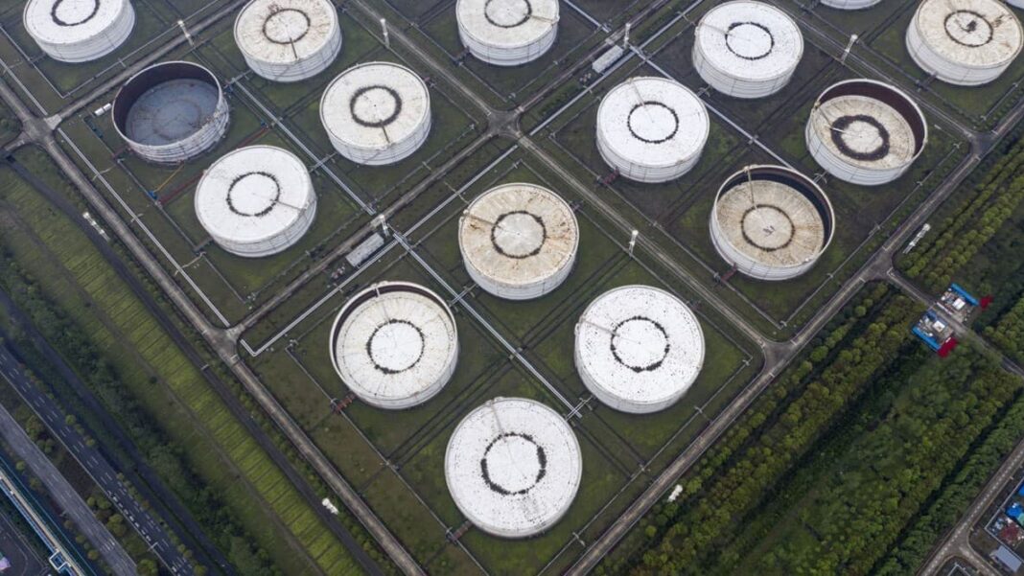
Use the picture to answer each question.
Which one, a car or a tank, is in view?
tank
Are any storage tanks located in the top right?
Yes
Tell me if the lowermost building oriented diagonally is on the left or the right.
right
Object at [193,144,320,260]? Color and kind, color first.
white storage tank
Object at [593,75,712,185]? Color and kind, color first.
white storage tank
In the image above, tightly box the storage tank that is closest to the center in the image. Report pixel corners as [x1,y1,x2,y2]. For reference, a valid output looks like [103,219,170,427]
[457,181,580,302]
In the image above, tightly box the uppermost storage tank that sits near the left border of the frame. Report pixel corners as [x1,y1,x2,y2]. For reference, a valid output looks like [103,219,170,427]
[21,0,138,64]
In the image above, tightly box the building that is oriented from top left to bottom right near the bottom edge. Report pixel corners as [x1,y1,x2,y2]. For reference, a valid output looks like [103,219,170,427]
[993,543,1024,572]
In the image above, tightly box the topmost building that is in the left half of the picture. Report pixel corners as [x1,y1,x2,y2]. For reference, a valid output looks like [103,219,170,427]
[345,230,386,266]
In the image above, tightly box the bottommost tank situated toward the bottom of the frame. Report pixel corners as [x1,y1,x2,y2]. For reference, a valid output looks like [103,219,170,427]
[444,395,584,542]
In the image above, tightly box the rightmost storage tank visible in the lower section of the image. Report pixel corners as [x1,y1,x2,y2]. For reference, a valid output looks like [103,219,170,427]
[572,283,707,416]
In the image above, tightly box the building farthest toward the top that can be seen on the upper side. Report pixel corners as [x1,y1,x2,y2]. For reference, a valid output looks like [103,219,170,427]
[591,41,626,72]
